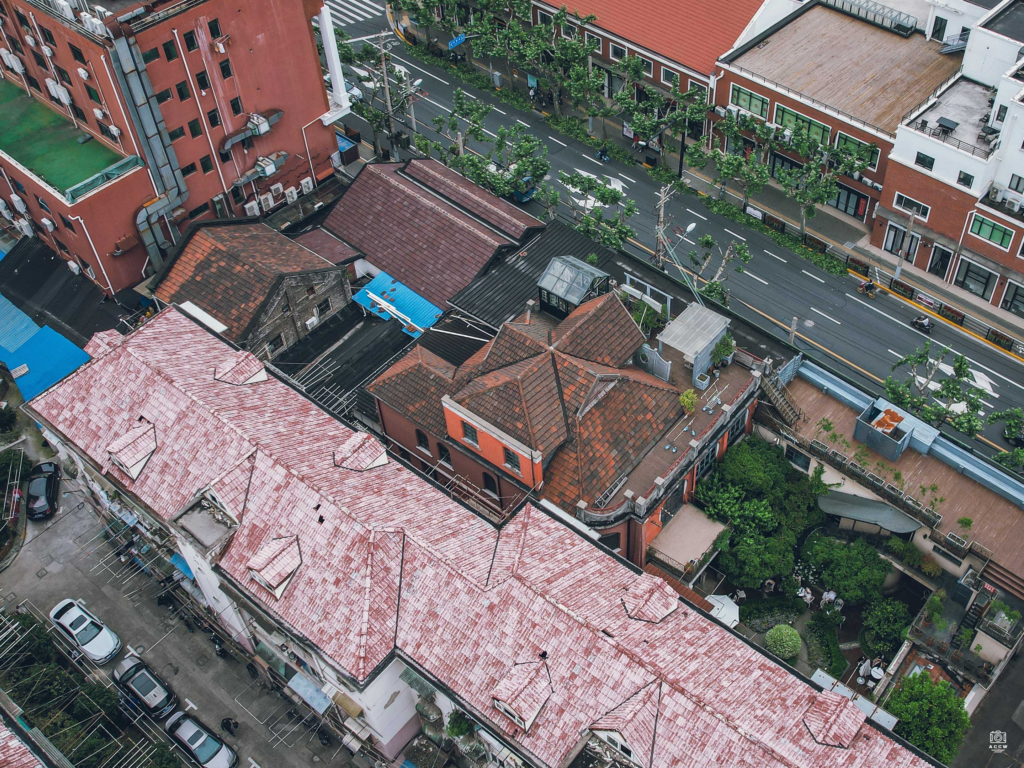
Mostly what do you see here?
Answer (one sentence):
What you mostly see from above here is buildings.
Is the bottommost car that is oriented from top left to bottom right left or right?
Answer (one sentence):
The bottommost car that is oriented from top left to bottom right appears in the left half of the scene.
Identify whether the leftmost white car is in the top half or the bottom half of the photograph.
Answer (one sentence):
You can find the leftmost white car in the bottom half.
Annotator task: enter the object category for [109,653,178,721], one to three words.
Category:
car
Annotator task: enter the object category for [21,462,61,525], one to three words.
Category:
car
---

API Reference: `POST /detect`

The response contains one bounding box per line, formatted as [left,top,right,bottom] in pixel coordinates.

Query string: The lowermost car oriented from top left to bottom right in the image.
[161,704,239,768]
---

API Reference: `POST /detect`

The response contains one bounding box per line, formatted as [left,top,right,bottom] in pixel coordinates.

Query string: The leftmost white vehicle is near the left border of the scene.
[50,593,119,665]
